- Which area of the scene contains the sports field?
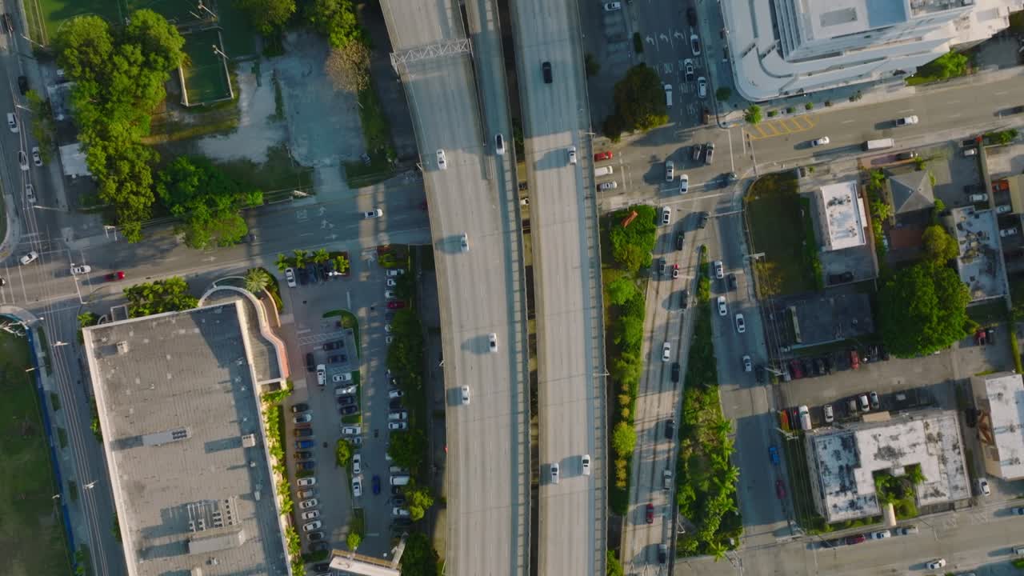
top left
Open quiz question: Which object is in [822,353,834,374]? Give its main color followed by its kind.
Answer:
black vehicle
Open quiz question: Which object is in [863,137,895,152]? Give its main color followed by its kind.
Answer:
white vehicle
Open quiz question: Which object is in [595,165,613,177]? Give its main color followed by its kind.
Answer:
white vehicle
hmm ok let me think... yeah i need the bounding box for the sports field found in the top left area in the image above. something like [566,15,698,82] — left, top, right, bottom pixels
[46,0,218,50]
